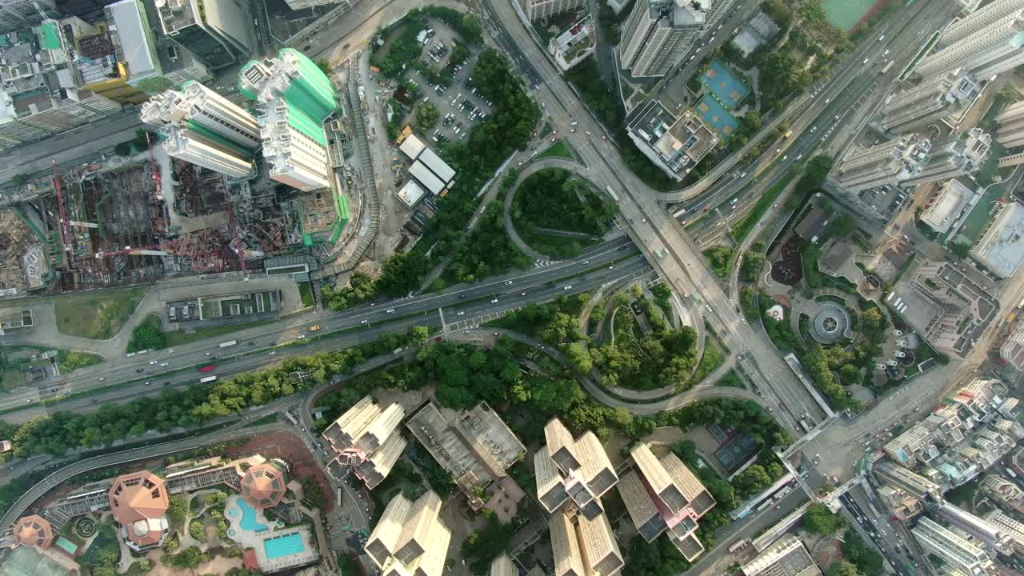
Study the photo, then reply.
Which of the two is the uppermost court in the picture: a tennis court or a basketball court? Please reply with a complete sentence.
I'd say the uppermost court is a basketball court.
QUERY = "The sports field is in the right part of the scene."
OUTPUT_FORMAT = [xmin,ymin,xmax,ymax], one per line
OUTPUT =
[819,0,884,34]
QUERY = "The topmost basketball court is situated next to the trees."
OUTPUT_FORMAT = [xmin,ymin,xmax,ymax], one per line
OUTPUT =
[700,59,751,109]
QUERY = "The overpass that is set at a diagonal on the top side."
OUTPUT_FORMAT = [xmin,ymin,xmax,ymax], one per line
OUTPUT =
[577,134,706,290]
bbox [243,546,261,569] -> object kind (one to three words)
shed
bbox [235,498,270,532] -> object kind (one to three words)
swimming pool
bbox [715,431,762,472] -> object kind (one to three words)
basketball court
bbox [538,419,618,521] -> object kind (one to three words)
building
